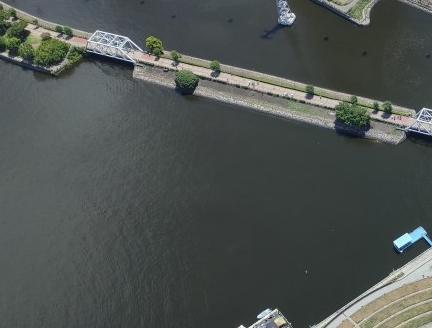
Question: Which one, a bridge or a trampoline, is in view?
bridge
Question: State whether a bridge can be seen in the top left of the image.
Yes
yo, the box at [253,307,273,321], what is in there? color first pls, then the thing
white boat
